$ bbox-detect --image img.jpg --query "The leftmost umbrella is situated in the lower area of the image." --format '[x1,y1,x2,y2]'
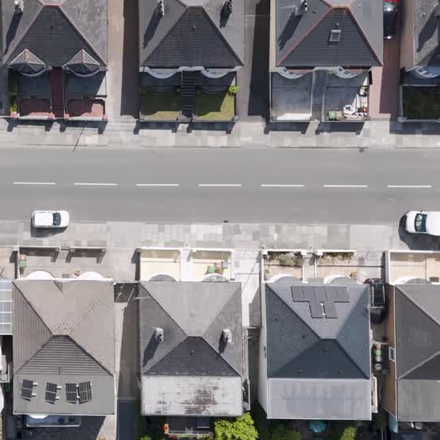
[310,420,327,434]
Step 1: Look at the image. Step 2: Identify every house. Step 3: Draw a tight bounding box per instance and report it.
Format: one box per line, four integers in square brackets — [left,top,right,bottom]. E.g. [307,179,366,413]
[138,270,244,435]
[138,0,245,79]
[2,0,107,78]
[401,0,440,79]
[381,272,440,422]
[12,268,115,427]
[260,272,372,421]
[271,0,384,79]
